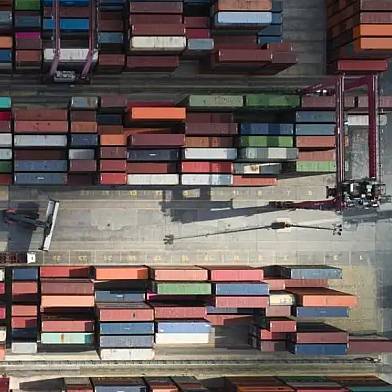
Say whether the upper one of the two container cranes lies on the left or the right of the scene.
left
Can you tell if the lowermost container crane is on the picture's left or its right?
right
